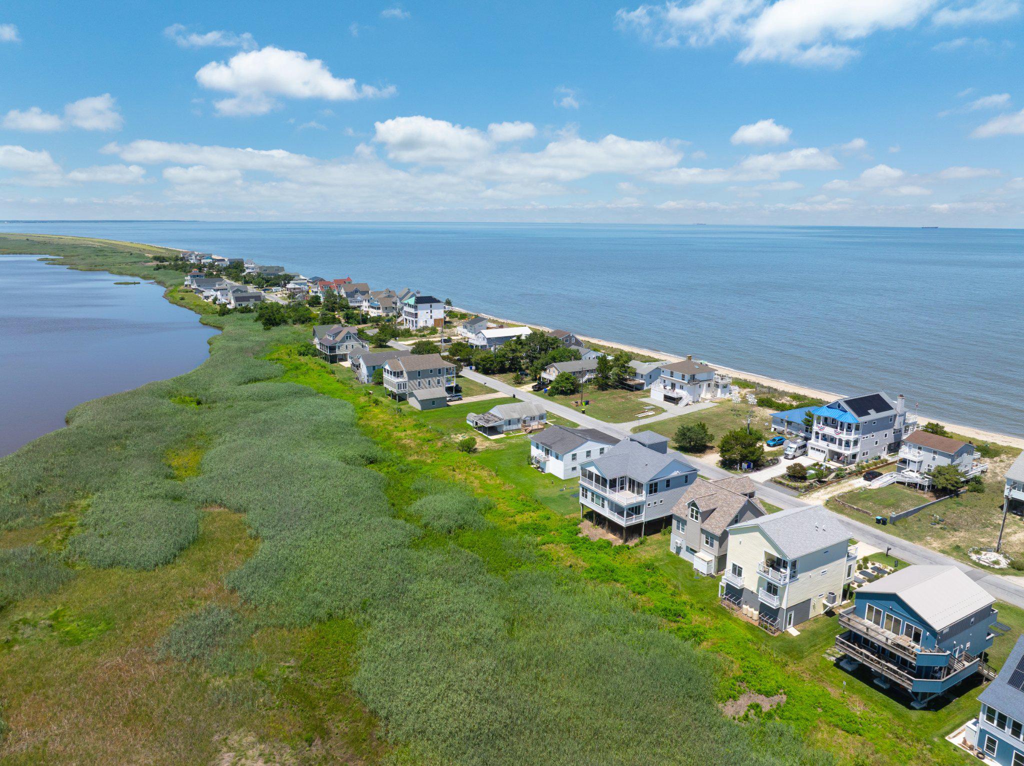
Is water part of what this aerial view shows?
Yes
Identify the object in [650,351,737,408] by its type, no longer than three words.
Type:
house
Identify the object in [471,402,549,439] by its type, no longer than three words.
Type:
house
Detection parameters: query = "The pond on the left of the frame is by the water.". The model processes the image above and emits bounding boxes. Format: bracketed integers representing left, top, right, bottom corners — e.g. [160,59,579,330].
[0,254,222,469]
